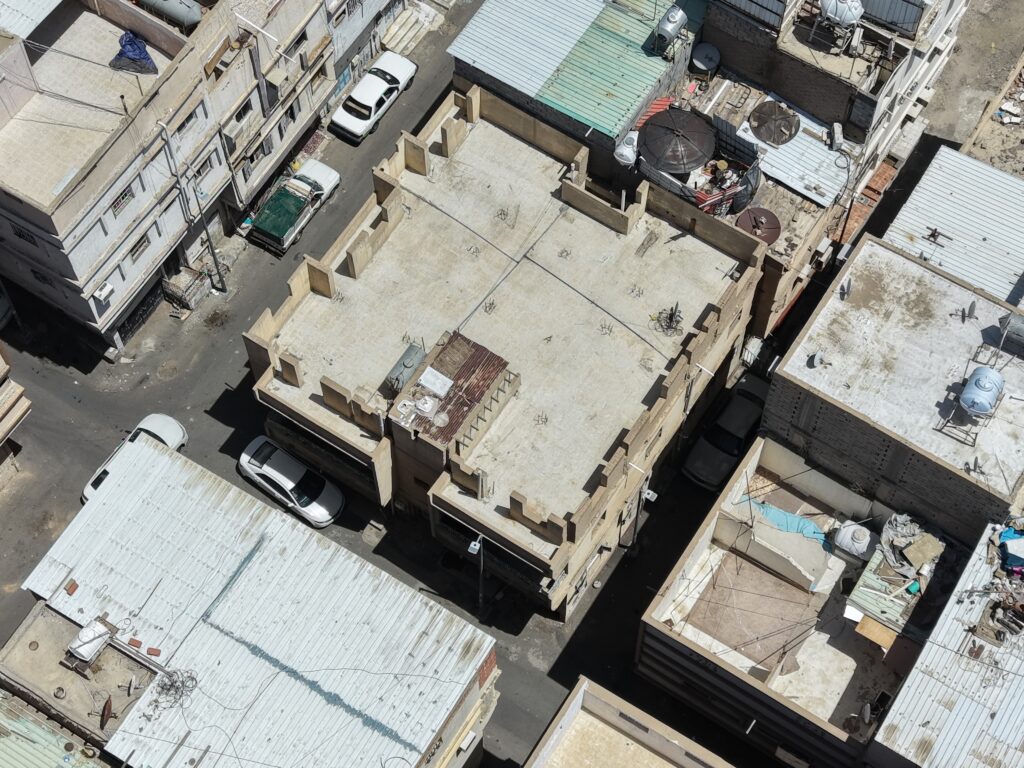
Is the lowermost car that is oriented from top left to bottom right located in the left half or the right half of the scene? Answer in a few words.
left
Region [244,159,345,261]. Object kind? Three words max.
vehicle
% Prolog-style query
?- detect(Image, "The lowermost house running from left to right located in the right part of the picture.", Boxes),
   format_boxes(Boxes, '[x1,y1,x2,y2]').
[521,679,726,768]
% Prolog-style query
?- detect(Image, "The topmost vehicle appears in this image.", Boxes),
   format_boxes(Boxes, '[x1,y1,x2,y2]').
[328,50,421,147]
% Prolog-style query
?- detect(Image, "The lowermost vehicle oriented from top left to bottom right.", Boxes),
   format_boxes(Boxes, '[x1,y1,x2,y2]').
[231,443,343,537]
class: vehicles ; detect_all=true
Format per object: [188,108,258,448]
[328,50,421,147]
[86,420,184,508]
[244,159,345,261]
[231,443,343,537]
[683,376,776,492]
